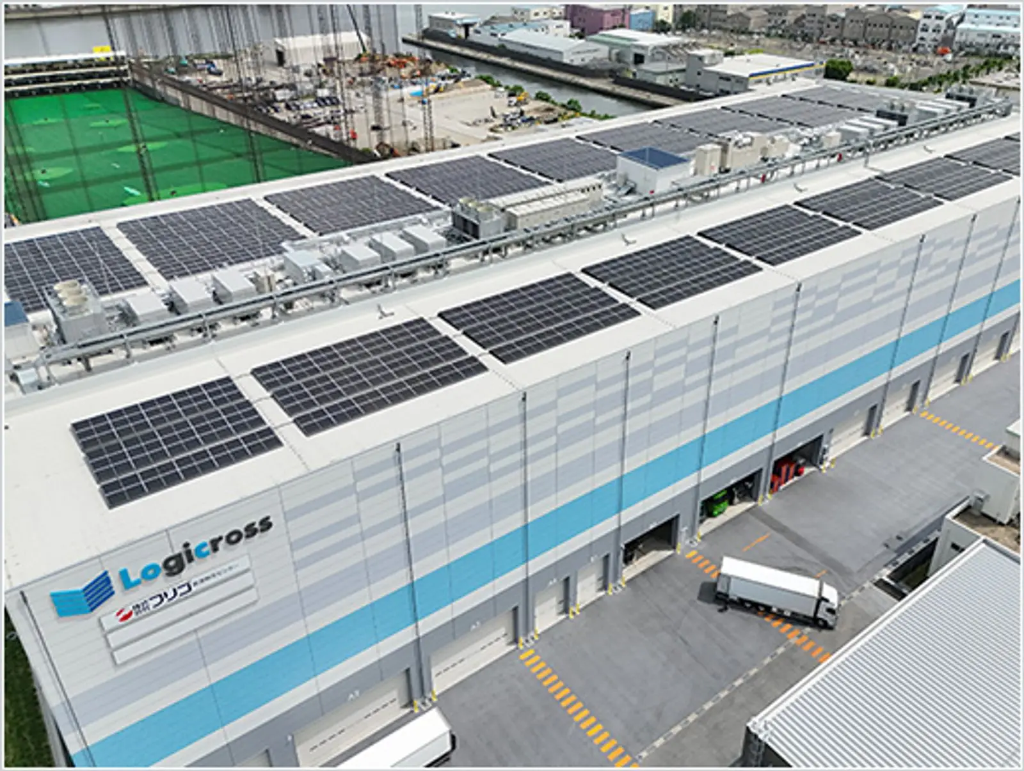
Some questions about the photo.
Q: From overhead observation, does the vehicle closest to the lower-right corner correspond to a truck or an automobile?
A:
truck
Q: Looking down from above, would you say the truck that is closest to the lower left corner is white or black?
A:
white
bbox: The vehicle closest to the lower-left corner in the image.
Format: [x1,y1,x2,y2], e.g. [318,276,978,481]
[332,705,463,771]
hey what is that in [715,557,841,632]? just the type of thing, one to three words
truck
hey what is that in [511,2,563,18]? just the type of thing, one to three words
building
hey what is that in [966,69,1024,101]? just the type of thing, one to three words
building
